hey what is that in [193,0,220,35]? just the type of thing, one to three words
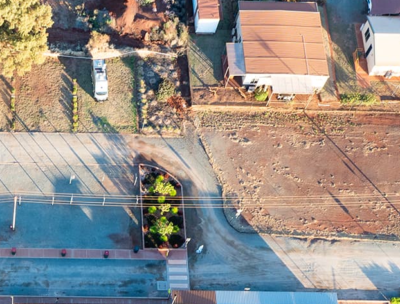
shed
